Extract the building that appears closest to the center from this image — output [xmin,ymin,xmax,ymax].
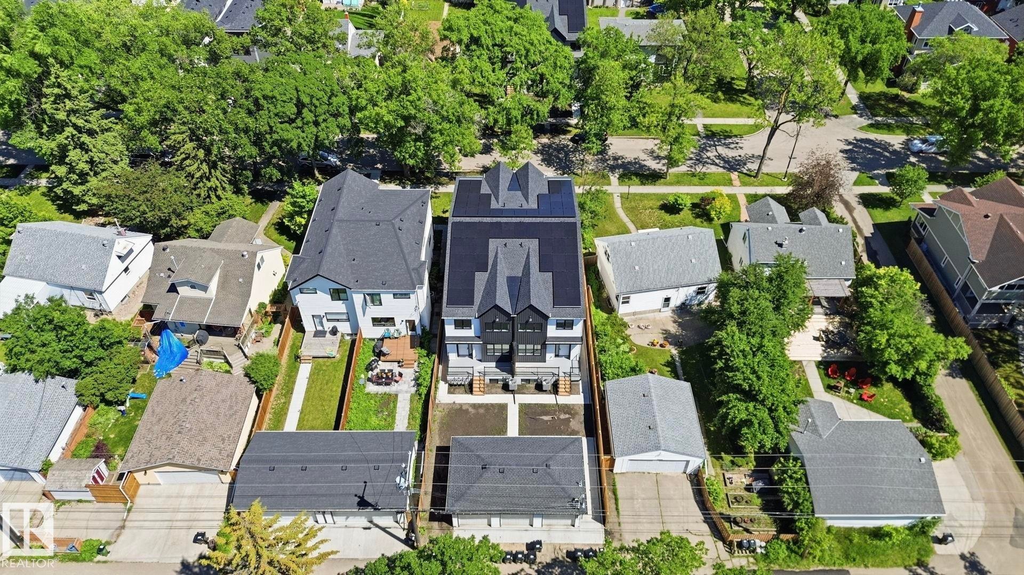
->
[441,158,586,404]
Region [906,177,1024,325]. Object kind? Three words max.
building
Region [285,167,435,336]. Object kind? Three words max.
house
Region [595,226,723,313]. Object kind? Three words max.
house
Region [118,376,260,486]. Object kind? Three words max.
building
